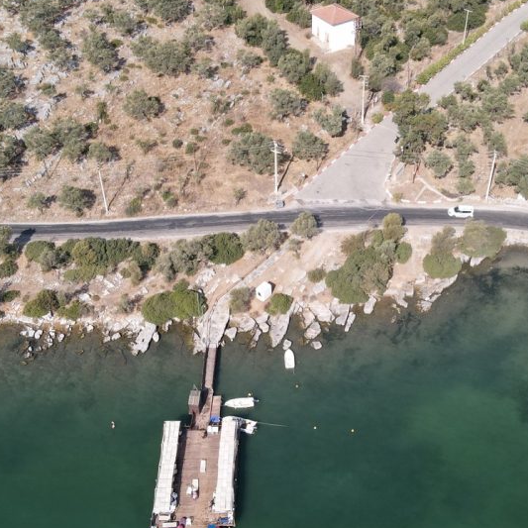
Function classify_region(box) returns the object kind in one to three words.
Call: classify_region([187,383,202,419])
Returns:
building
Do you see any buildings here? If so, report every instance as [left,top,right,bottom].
[187,383,202,419]
[253,281,272,303]
[304,6,357,56]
